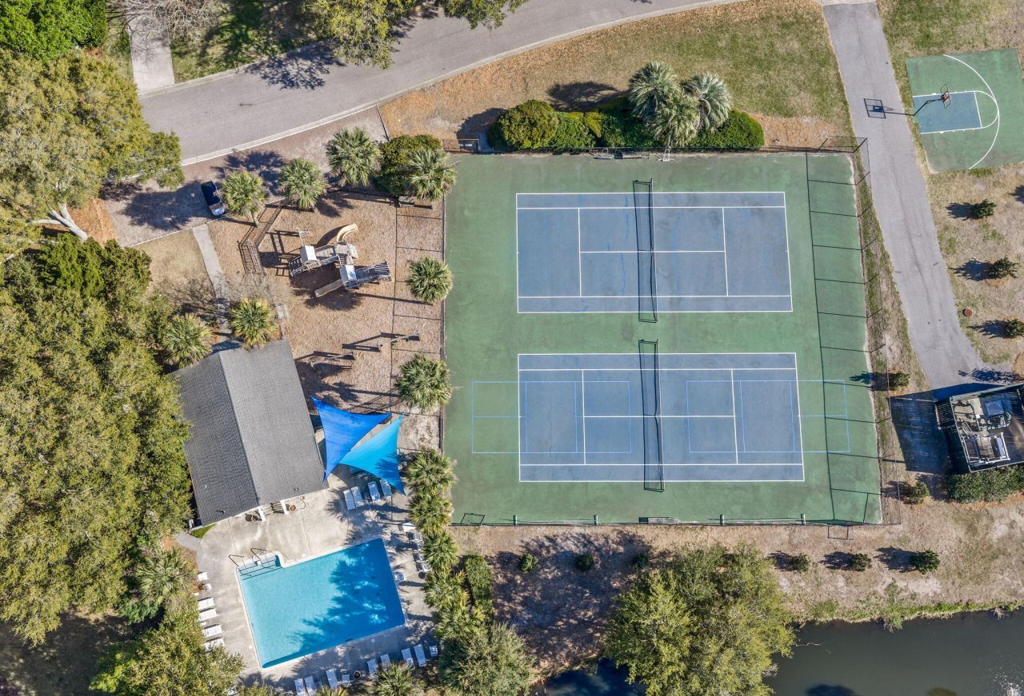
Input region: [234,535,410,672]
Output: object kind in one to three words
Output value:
swimming pool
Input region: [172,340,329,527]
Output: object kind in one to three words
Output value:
building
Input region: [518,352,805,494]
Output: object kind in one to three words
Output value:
tennis court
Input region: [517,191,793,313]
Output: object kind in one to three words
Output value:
tennis court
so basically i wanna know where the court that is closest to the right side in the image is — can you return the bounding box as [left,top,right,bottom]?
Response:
[906,48,1024,172]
